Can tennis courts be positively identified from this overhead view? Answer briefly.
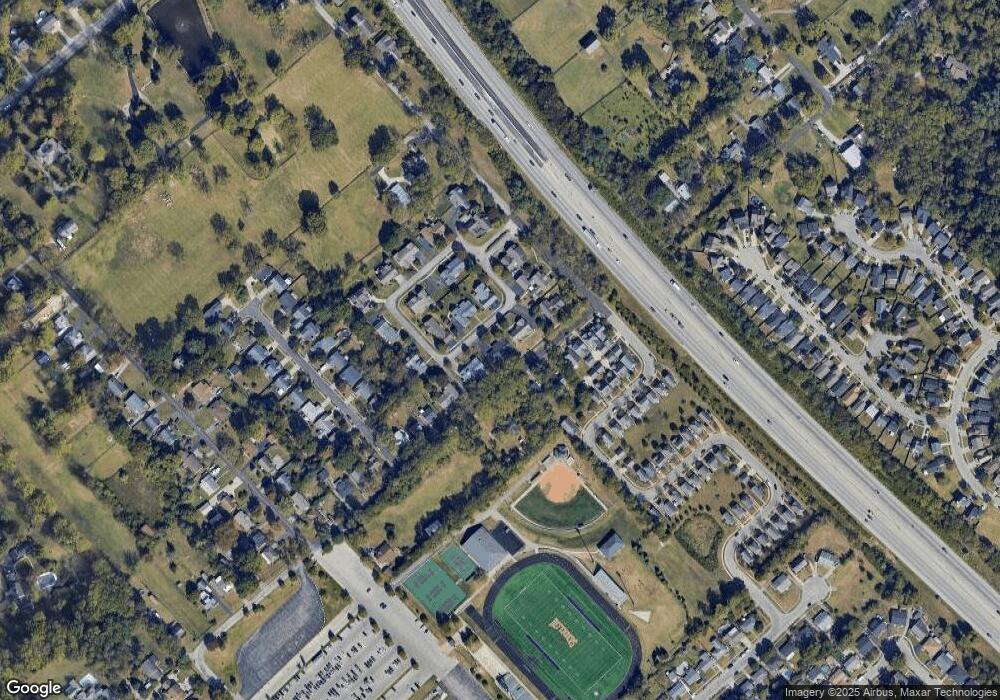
Yes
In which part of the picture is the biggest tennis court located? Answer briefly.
bottom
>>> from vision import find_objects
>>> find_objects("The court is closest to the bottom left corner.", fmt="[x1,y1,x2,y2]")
[404,560,466,614]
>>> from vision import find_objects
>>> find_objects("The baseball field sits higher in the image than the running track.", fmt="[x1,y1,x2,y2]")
[512,460,607,530]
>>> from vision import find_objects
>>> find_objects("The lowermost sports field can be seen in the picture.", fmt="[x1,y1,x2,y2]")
[492,561,632,700]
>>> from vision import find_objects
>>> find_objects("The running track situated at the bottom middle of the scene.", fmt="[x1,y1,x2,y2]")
[463,553,642,700]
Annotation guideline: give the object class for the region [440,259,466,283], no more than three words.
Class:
house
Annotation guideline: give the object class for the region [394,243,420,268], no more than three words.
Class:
house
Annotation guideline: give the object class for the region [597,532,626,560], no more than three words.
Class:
building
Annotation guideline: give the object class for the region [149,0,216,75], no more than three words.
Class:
pond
